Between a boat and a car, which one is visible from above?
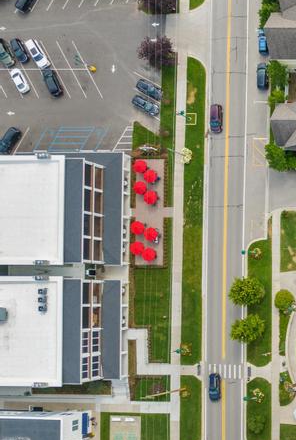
car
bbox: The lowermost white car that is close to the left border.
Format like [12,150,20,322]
[8,67,31,94]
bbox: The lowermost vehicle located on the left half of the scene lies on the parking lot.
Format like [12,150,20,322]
[0,128,24,154]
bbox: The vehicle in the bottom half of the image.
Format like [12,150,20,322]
[207,373,222,401]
